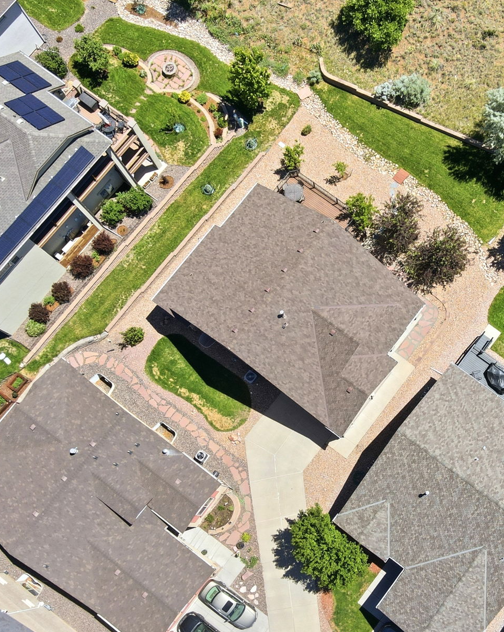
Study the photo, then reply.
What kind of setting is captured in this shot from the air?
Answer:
residential area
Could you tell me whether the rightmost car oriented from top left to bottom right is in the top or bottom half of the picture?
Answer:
bottom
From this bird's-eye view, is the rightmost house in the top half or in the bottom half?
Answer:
bottom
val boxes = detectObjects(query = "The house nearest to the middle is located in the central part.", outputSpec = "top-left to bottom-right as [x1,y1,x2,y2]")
[152,183,425,438]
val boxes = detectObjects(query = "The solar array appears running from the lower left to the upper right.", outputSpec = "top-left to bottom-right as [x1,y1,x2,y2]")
[0,146,94,264]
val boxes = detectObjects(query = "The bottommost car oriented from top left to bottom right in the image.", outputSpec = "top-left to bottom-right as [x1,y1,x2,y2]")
[199,578,261,630]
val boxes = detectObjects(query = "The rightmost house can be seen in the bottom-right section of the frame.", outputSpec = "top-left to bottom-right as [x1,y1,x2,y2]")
[335,362,504,632]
